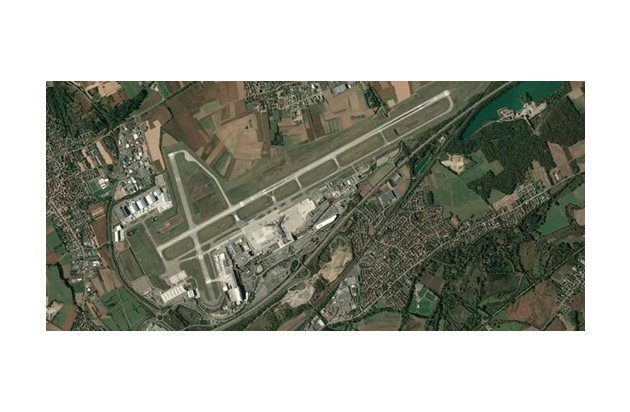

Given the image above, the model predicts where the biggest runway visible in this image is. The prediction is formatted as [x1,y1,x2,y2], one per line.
[156,89,452,252]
